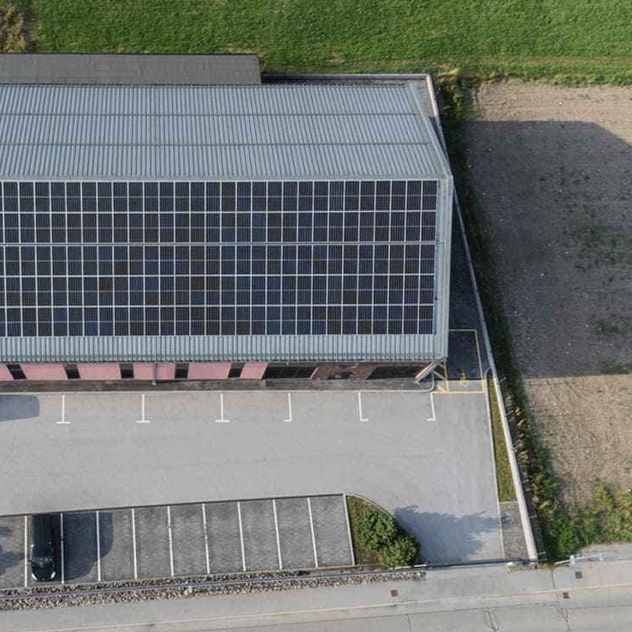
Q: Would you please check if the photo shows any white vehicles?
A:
No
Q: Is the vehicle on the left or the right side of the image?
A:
left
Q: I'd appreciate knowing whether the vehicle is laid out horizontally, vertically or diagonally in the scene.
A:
vertically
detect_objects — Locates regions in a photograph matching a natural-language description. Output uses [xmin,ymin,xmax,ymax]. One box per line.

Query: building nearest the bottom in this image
[0,82,452,383]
